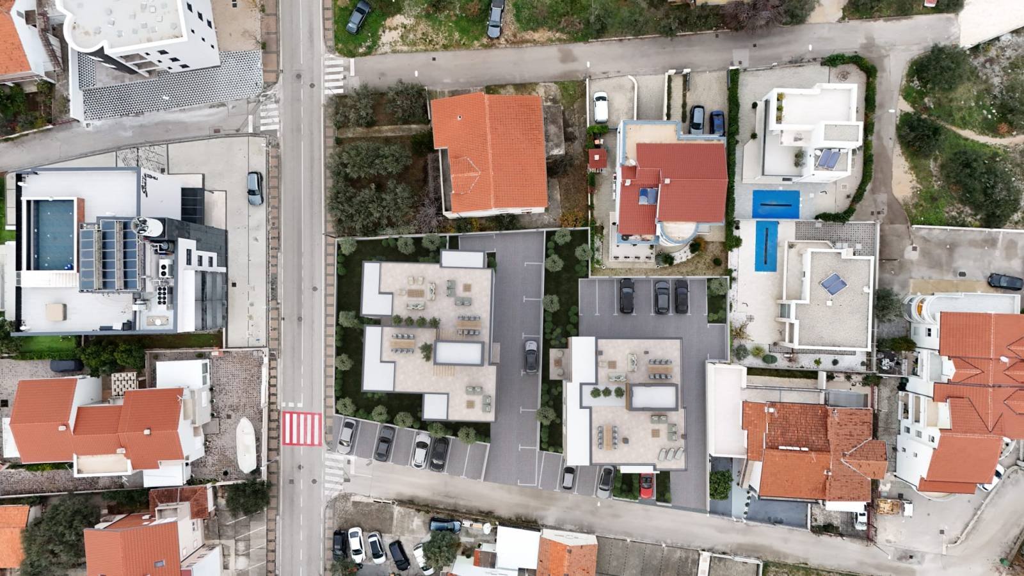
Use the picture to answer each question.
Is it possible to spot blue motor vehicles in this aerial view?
Yes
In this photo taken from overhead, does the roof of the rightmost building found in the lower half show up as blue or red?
red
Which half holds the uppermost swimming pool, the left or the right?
right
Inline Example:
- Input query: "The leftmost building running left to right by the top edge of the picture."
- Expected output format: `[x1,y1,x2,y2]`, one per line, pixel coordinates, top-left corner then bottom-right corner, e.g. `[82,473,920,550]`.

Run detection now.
[57,0,220,77]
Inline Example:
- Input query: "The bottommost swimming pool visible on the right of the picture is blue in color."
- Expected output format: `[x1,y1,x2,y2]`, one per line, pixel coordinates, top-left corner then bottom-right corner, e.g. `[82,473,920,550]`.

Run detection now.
[752,218,780,274]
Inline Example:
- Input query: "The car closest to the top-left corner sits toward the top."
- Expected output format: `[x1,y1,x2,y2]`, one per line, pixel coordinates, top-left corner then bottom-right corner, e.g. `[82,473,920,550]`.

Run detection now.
[245,170,264,206]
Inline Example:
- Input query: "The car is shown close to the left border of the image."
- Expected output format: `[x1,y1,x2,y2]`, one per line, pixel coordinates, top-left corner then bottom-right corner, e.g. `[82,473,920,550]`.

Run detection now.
[49,358,85,375]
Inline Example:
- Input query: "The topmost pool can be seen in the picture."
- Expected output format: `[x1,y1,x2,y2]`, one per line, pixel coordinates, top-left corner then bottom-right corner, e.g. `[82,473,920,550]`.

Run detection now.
[749,187,802,220]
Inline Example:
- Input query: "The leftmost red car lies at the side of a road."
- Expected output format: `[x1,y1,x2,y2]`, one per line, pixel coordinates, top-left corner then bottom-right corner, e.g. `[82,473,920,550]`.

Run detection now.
[639,473,655,500]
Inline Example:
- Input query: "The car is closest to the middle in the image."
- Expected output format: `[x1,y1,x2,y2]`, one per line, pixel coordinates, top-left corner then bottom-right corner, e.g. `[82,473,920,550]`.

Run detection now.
[523,339,539,374]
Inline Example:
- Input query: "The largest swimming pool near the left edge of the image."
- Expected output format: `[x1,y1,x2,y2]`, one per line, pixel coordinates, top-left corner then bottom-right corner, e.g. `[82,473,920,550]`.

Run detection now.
[33,201,74,269]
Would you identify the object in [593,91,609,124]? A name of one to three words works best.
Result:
vehicle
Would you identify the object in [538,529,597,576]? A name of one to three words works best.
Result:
house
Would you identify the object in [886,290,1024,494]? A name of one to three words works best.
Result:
building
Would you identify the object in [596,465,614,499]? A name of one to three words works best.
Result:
car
